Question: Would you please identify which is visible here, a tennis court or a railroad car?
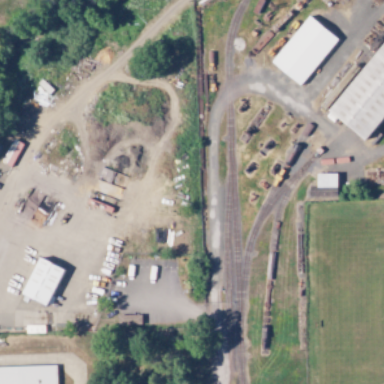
railroad car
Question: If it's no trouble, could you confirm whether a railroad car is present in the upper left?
No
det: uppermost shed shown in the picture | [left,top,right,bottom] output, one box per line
[273,16,339,85]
